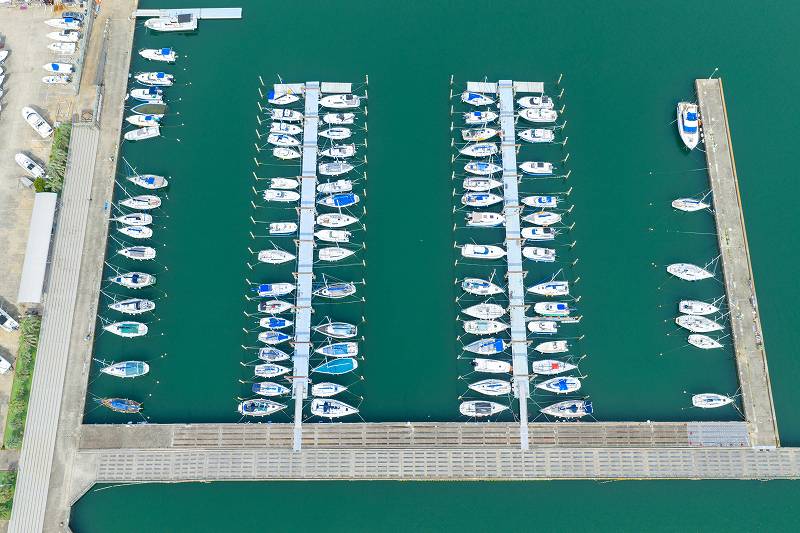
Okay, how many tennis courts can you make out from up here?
none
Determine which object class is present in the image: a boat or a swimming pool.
boat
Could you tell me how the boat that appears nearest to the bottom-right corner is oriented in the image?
horizontally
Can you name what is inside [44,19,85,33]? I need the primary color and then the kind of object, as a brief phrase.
white boat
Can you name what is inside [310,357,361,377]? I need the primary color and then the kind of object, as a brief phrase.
blue boat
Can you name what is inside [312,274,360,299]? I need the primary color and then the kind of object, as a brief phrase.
white boat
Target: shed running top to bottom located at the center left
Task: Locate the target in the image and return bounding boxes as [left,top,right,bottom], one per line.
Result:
[16,192,62,305]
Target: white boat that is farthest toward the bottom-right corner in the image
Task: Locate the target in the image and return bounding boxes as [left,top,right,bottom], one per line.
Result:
[684,389,744,409]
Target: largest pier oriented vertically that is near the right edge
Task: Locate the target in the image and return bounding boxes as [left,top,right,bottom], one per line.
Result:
[693,76,781,446]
